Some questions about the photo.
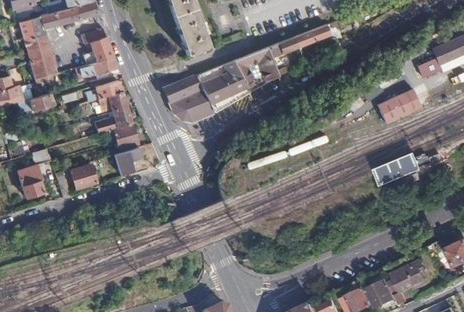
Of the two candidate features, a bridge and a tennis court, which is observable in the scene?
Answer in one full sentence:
Looking from above, you can make out a bridge.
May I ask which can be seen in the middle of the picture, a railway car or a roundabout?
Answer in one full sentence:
What appears in the middle of the picture is a railway car.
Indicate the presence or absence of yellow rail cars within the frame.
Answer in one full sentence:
No, this view has no yellow rail car in it.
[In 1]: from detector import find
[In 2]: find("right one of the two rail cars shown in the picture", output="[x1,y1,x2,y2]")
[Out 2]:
[286,136,329,156]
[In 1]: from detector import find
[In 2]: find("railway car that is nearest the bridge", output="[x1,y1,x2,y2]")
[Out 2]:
[245,152,288,170]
